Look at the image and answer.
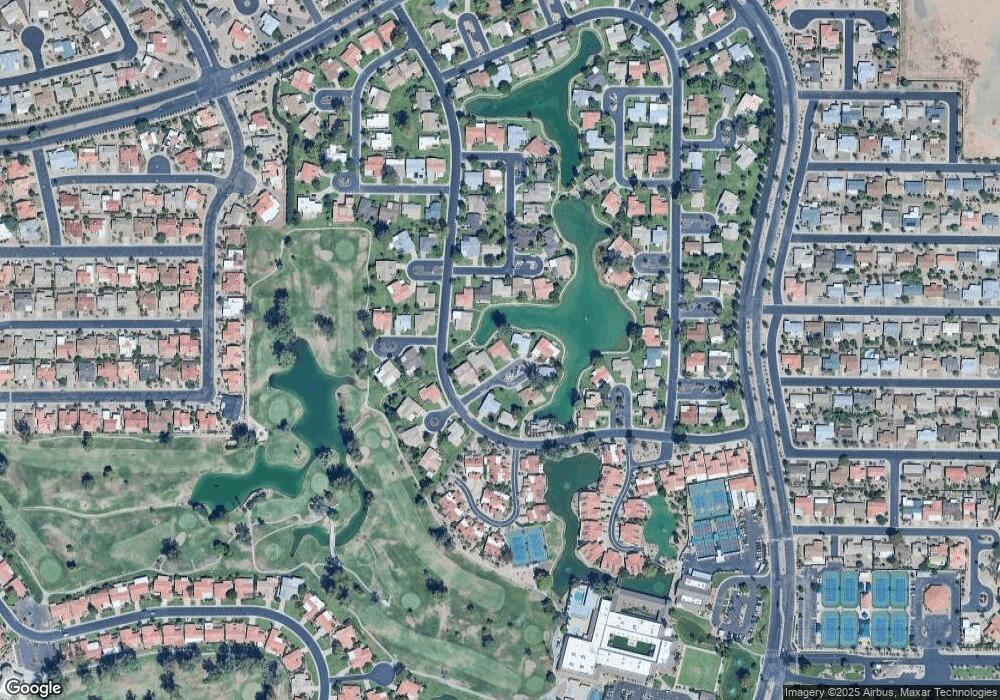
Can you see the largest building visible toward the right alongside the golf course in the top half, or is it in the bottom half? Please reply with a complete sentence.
The largest building visible toward the right alongside the golf course is in the bottom half of the image.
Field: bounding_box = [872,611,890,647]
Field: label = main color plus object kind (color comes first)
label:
blue tennis court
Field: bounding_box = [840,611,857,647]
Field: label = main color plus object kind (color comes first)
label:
blue tennis court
